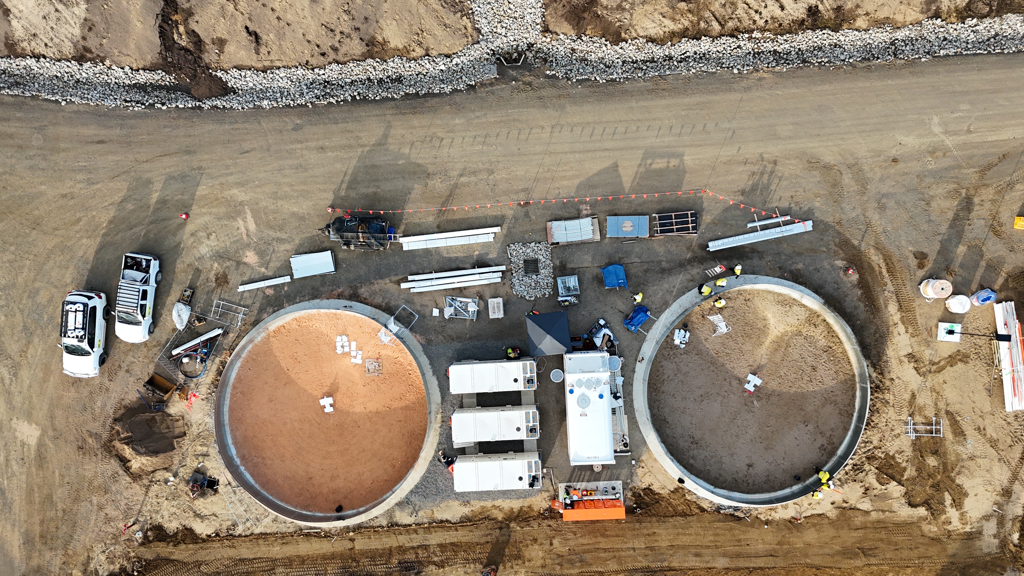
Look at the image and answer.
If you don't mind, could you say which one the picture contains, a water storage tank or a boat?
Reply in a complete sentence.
I can see a water storage tank in this picture.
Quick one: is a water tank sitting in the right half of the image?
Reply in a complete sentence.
Yes, the scene does show a water tank in the right half of the image.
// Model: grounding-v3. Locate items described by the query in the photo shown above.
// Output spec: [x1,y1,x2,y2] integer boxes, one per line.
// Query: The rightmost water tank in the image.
[633,273,869,509]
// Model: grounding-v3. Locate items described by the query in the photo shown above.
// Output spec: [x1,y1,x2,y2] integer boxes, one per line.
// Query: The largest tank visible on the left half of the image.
[213,298,441,527]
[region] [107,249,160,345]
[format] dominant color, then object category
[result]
white vehicle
